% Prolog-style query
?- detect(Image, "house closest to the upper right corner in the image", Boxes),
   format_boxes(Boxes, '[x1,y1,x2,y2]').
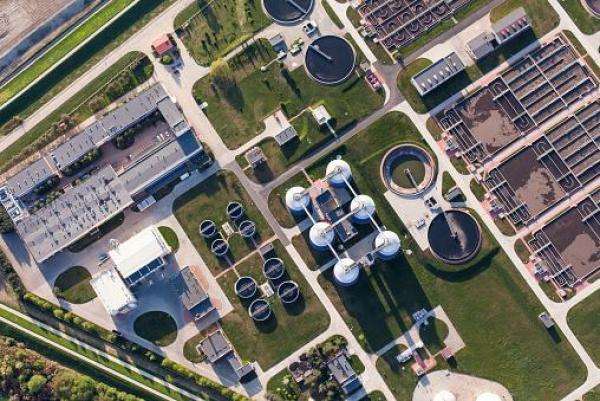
[489,8,532,46]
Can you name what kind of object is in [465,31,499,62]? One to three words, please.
building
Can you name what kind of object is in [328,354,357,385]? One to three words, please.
house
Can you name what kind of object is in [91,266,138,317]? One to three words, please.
shed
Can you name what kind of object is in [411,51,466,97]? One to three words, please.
house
